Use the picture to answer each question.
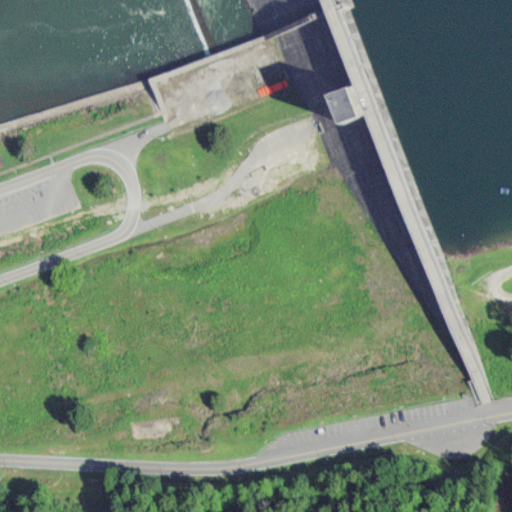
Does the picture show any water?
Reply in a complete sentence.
Yes, the picture does contain water.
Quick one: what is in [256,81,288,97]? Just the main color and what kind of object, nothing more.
red vehicle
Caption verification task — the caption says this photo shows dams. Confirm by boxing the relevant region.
[238,0,496,402]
